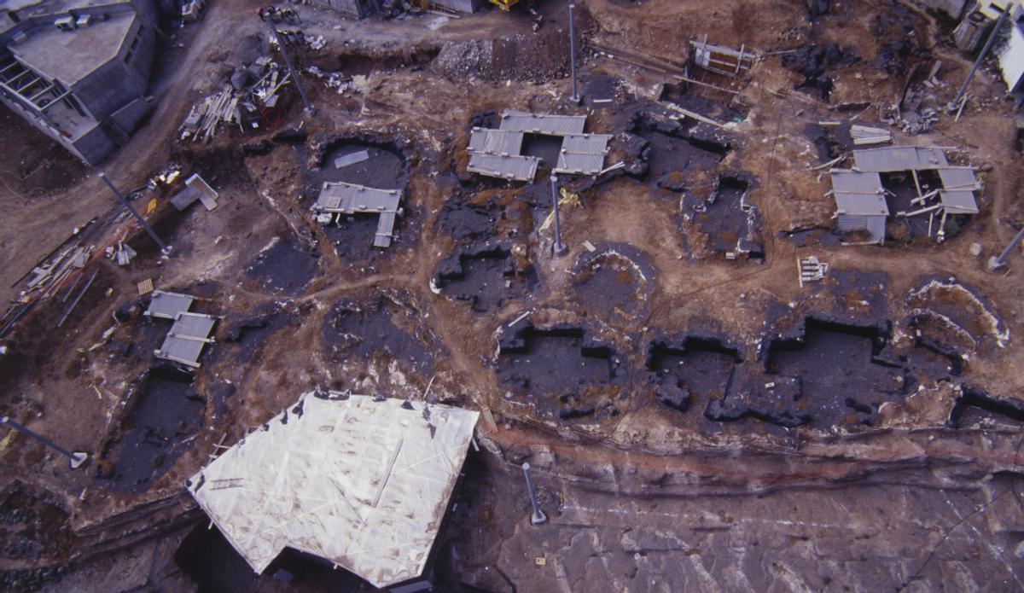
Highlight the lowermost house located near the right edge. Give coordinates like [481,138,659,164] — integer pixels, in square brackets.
[940,377,1024,427]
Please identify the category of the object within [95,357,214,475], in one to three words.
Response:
house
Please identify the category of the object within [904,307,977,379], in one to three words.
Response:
house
